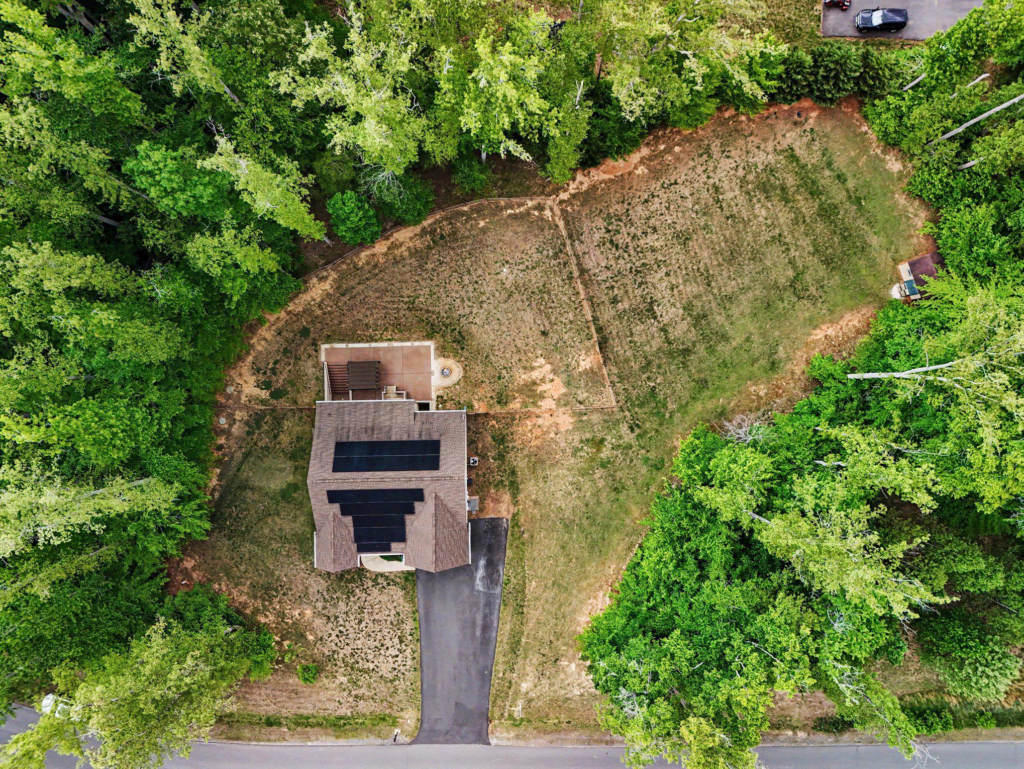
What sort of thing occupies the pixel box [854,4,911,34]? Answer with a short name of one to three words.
car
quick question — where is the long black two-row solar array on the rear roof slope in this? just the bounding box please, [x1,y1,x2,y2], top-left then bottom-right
[332,441,440,473]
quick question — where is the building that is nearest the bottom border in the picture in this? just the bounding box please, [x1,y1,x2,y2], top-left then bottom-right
[307,399,473,573]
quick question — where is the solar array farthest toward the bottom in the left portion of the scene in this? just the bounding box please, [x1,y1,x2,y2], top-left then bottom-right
[327,488,423,552]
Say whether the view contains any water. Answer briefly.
No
